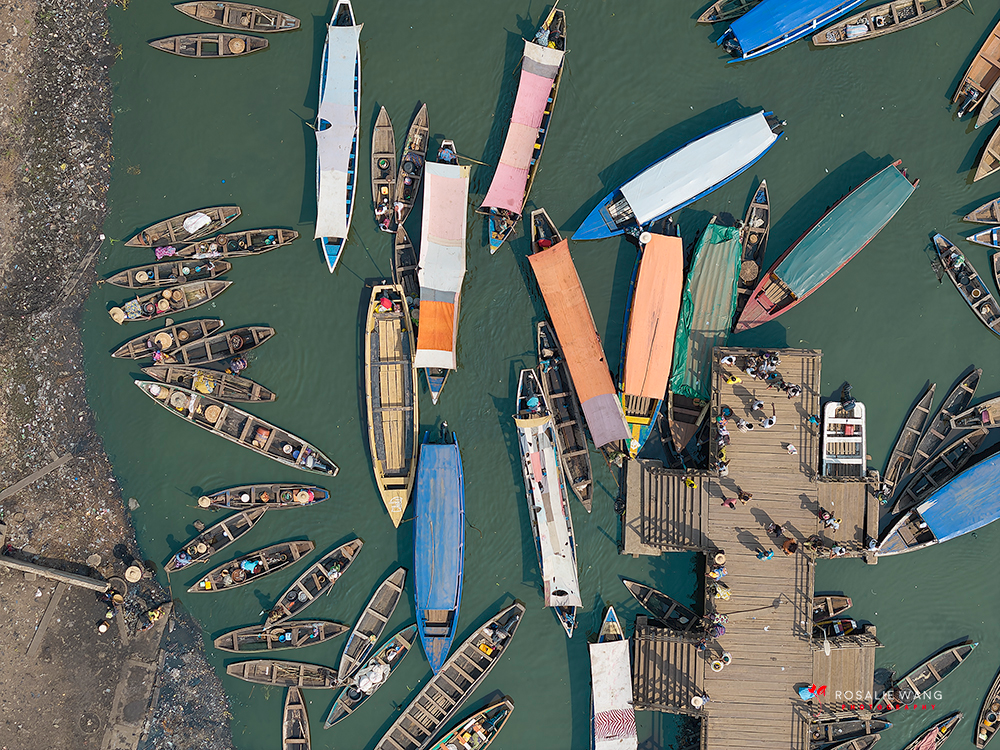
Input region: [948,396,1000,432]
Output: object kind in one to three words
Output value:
boat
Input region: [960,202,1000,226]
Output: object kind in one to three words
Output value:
boat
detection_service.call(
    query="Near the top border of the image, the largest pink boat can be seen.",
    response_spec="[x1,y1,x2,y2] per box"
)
[479,7,566,255]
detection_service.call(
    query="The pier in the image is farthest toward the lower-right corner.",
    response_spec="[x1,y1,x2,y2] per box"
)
[624,348,887,750]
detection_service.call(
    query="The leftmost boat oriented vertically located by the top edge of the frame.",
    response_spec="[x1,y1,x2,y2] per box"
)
[315,0,360,272]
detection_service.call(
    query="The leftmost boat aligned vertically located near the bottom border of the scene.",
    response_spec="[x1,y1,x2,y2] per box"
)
[279,687,310,750]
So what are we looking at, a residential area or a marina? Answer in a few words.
marina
